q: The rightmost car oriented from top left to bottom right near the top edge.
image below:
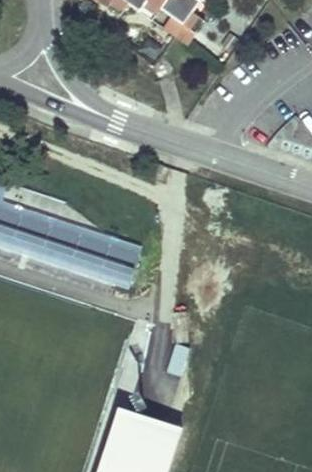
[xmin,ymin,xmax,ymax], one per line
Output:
[294,18,312,40]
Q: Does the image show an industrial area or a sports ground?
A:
sports ground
